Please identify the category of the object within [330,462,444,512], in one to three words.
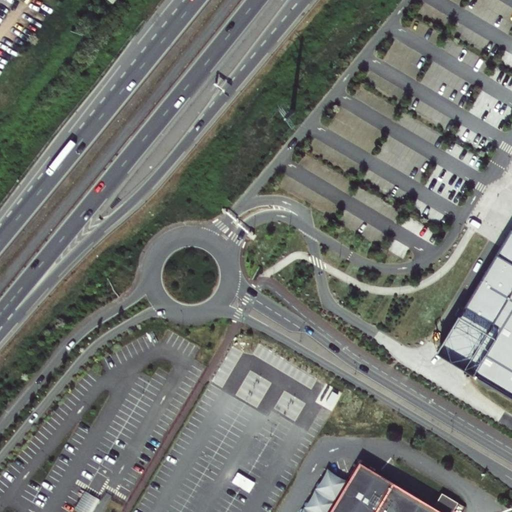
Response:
building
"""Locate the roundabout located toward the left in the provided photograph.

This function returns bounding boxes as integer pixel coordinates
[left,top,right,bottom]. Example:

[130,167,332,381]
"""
[128,220,244,324]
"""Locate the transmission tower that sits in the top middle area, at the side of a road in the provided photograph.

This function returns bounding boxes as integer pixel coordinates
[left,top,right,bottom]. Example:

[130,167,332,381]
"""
[278,104,297,128]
